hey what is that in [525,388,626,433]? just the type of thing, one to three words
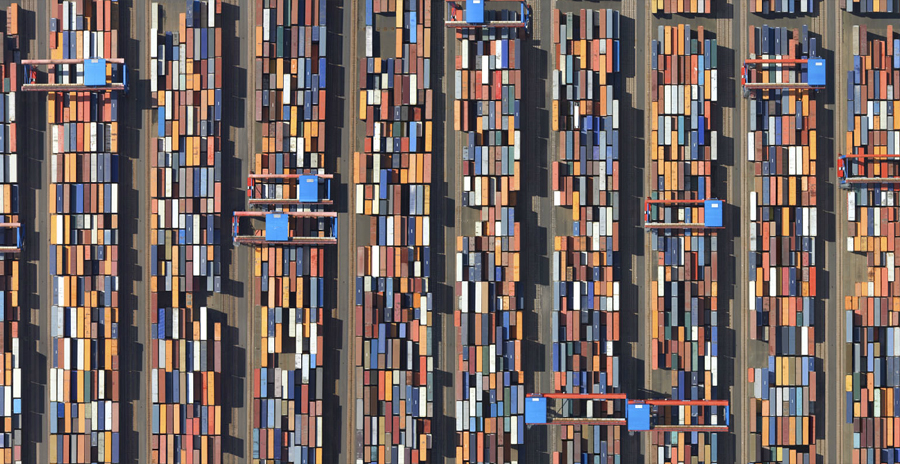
container crane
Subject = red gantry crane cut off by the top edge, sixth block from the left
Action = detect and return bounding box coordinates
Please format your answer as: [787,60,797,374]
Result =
[444,0,524,40]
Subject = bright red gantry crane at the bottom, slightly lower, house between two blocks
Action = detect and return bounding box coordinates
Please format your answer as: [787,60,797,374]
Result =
[626,395,729,439]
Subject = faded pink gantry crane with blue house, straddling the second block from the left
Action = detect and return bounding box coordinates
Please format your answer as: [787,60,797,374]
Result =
[21,57,127,102]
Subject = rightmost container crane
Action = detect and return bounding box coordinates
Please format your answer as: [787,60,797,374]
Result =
[835,152,900,194]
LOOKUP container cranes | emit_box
[249,171,333,212]
[444,0,524,40]
[626,395,729,439]
[21,57,127,102]
[525,388,626,433]
[234,209,338,254]
[641,197,725,239]
[741,58,826,101]
[835,152,900,194]
[0,220,24,254]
